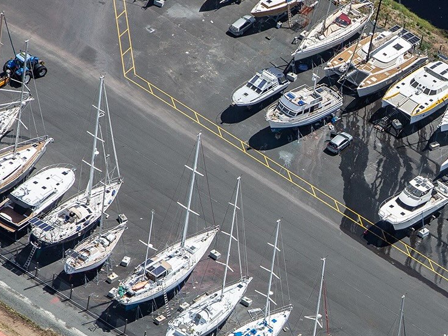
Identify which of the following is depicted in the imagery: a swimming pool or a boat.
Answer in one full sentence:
The image shows a boat.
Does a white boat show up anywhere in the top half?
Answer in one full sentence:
Yes, you'll find a white boat in the top half.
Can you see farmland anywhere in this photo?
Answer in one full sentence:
No, farmland can't be seen anywhere here.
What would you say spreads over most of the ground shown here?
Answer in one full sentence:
The largest share of the image is taken up by paved ground.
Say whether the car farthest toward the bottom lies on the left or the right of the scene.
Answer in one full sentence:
The car farthest toward the bottom appears in the right half of the scene.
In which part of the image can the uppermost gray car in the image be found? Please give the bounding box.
[228,13,258,33]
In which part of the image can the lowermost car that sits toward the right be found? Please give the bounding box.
[326,131,352,151]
